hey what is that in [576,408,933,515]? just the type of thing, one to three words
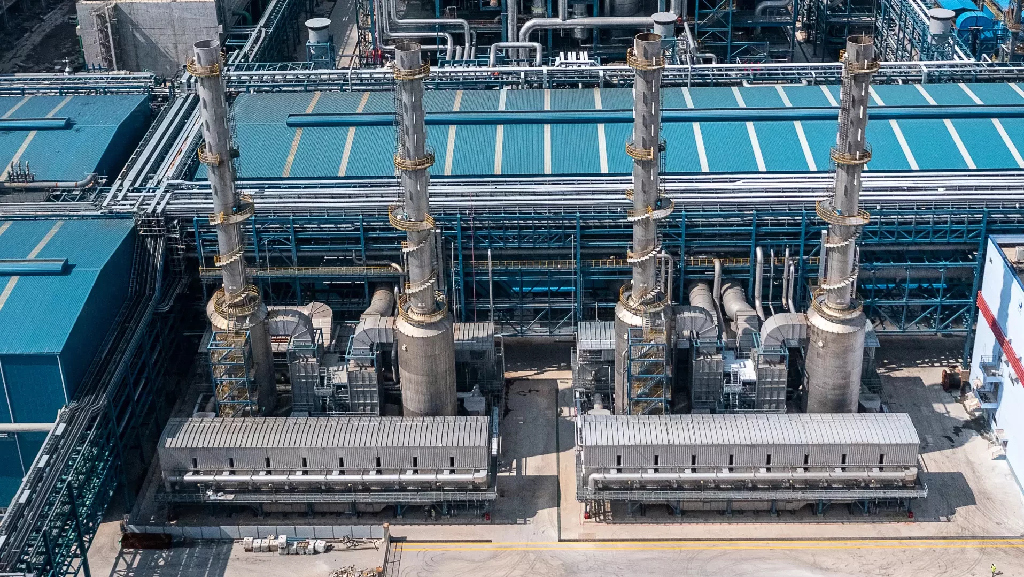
building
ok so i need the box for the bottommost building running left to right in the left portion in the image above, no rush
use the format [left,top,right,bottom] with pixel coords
[150,412,506,520]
